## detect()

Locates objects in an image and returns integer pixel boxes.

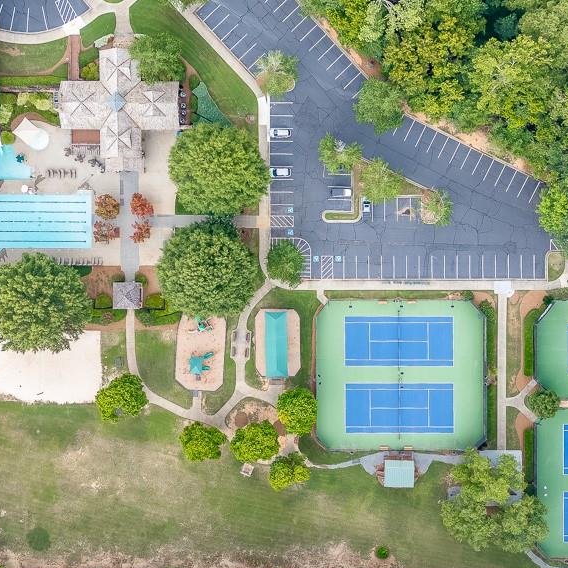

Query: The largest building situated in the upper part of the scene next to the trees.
[55,44,179,173]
